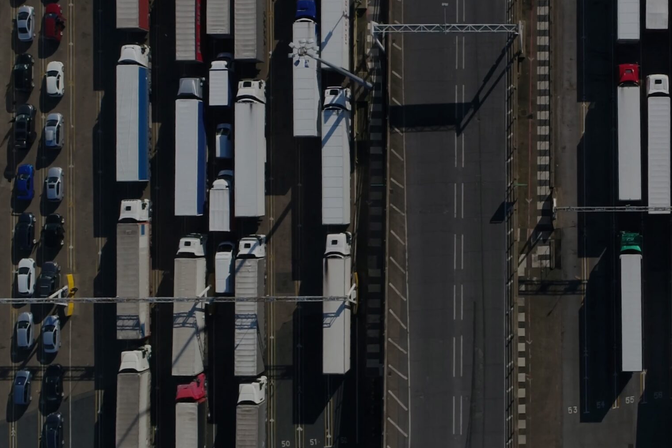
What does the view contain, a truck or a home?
truck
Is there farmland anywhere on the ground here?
No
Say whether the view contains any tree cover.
No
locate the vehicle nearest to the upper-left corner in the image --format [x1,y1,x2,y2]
[15,6,36,41]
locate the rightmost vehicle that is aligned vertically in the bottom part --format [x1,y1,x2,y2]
[617,227,643,372]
